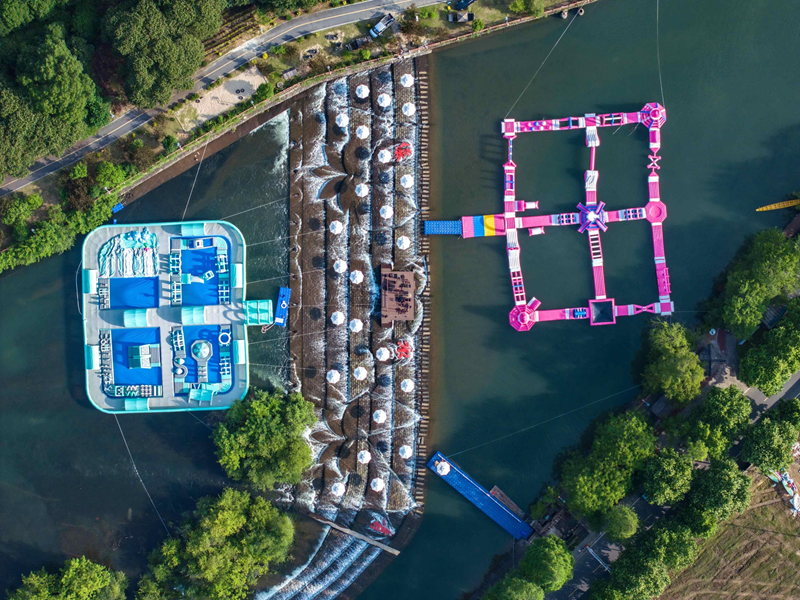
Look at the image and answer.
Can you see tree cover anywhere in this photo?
Yes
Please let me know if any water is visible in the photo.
Yes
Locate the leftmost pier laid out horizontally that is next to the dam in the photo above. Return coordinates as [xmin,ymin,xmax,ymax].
[424,220,462,234]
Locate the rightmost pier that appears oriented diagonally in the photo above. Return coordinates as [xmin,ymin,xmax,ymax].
[427,452,527,538]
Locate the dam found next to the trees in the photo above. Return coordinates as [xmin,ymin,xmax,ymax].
[259,51,431,600]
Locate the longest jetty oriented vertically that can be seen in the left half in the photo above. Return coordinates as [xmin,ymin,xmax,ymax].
[274,287,291,326]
